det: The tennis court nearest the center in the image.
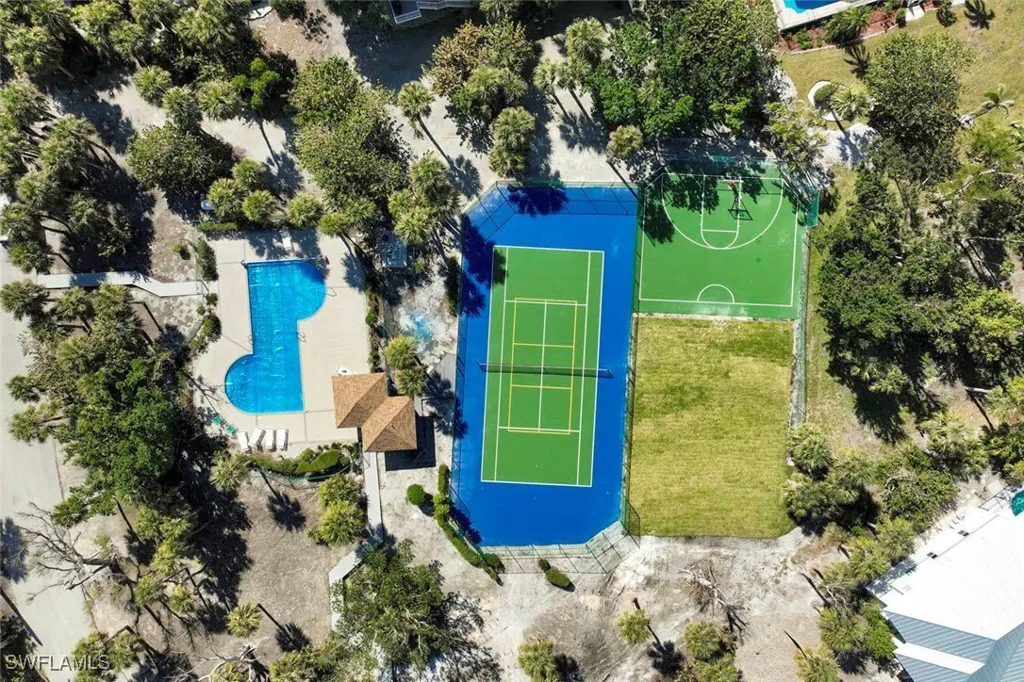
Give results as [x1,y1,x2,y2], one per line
[451,185,638,547]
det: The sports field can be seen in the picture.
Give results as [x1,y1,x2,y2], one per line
[630,316,797,538]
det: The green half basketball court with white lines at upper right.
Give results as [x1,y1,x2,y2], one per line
[633,158,804,319]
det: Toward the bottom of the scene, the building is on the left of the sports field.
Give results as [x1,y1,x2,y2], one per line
[332,373,417,452]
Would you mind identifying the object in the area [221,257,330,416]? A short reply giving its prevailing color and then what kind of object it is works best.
blue swimming pool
